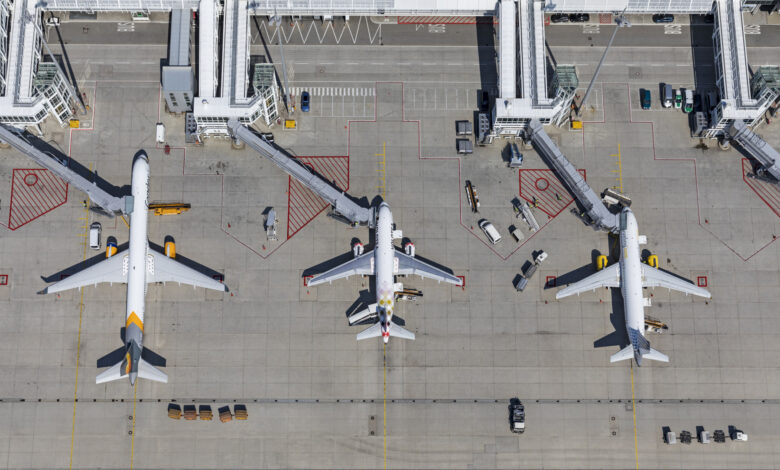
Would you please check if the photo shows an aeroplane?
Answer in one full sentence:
Yes, an aeroplane appears in the view.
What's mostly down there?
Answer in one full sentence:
What you mostly see from above here is paved ground.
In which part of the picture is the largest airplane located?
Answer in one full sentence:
The largest airplane appears toward the left of the photo.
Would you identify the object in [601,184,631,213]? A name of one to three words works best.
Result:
truck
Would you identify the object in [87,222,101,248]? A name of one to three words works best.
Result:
vehicle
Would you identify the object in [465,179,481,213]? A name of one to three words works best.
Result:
work vehicle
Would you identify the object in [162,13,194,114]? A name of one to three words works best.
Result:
building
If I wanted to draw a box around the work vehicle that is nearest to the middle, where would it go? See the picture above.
[395,291,424,305]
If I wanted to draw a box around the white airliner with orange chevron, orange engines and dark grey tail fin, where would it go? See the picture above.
[36,154,229,385]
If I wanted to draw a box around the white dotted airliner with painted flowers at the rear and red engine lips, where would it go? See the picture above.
[307,200,463,344]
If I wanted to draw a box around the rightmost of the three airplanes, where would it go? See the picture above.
[556,207,713,367]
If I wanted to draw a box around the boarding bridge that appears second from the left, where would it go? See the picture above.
[227,119,380,228]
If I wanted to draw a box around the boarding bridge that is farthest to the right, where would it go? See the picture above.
[717,120,780,201]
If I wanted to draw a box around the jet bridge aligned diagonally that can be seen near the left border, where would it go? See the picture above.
[0,129,136,226]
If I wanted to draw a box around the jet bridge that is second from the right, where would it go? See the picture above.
[522,120,628,235]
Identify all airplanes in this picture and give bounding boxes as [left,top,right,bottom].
[556,207,713,367]
[36,154,229,385]
[307,200,463,344]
